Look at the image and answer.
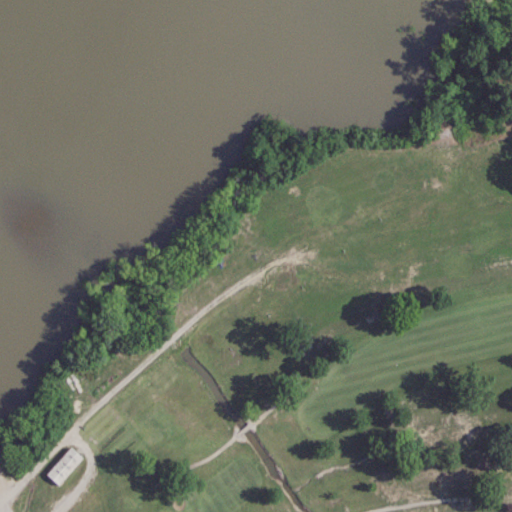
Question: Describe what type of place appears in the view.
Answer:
golf course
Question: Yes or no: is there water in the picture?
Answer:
Yes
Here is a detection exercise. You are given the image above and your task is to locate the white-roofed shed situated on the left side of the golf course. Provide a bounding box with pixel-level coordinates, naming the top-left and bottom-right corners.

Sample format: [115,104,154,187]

[47,448,84,486]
